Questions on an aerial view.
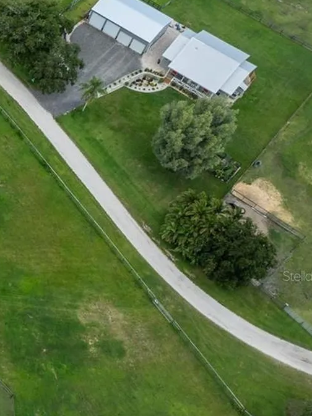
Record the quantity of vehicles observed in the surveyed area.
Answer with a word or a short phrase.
0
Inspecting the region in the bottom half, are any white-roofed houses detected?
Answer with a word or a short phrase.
No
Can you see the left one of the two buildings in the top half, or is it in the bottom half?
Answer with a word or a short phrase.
top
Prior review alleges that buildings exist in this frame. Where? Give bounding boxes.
[157,28,256,104]
[87,0,172,54]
